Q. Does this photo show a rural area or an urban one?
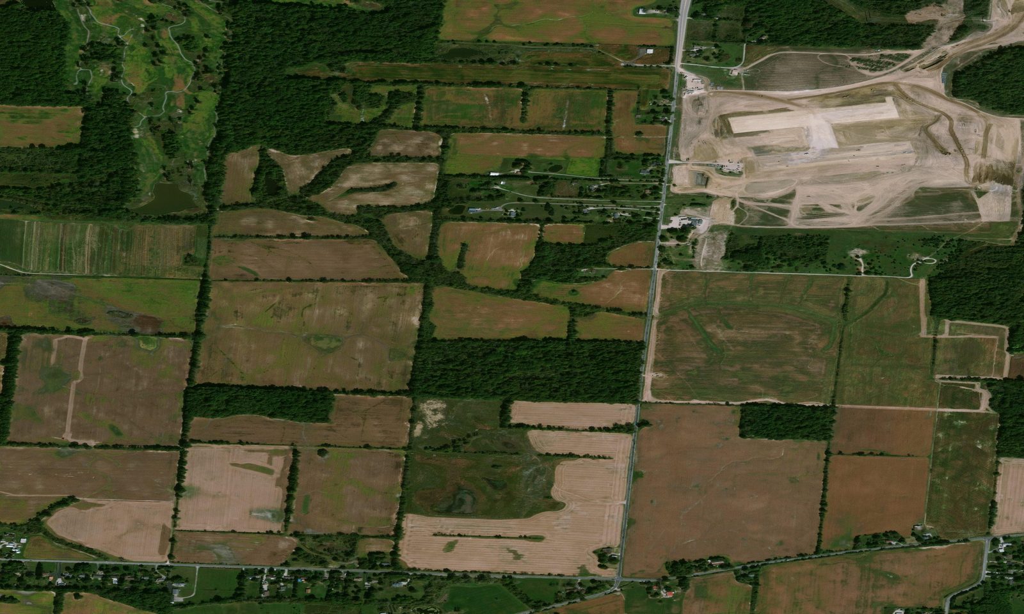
rural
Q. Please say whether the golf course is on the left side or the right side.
left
